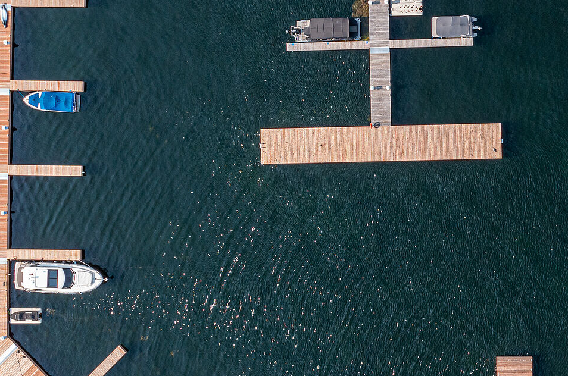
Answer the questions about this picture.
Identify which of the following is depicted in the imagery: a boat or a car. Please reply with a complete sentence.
The image shows a boat.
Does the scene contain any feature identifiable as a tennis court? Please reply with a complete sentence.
No, there's no tennis court here.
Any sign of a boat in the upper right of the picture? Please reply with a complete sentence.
Yes, looking in the upper right of the picture, one can make out a boat.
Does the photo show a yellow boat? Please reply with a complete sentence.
No, the scene contains no yellow boat.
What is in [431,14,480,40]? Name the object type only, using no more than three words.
boat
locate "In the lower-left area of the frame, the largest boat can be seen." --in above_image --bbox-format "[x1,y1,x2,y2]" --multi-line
[14,261,106,295]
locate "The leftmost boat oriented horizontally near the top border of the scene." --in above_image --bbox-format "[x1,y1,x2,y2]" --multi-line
[289,16,361,42]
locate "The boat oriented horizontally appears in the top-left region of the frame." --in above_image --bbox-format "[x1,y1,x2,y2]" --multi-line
[22,90,82,111]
